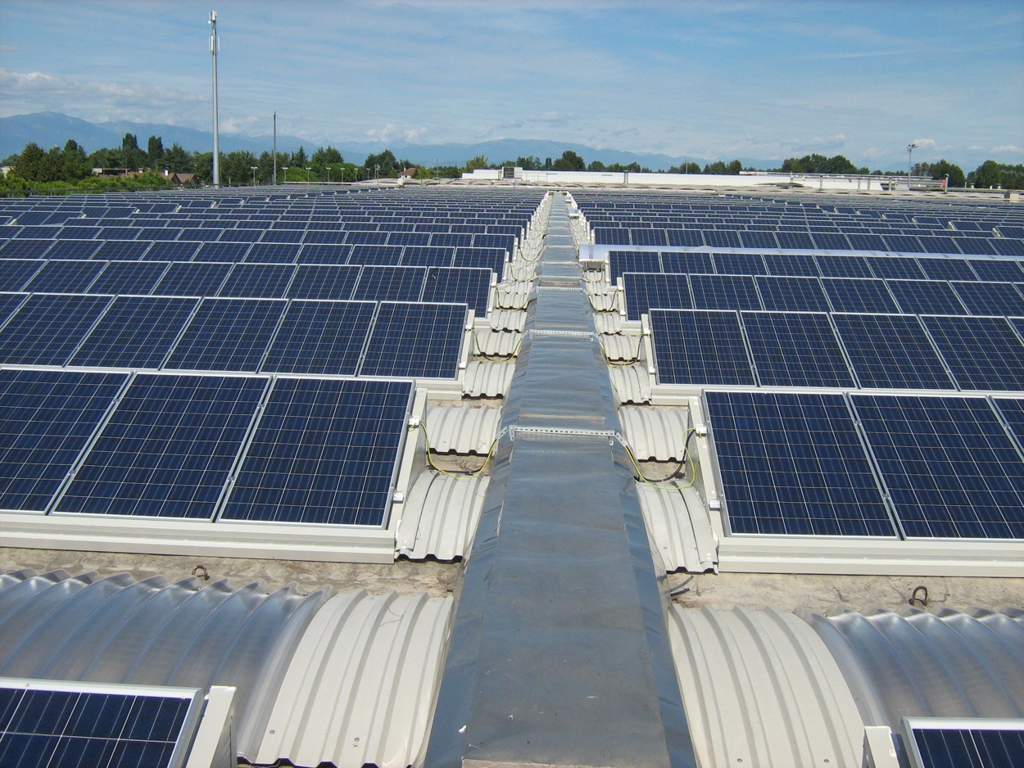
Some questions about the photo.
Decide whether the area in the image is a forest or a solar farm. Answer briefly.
solar farm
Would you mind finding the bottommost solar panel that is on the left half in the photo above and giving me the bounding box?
[0,680,207,768]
